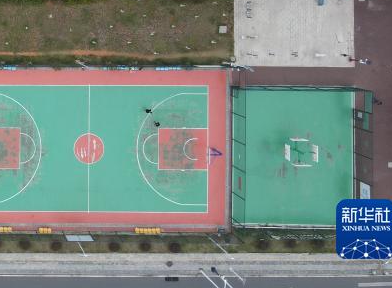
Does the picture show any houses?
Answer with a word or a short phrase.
No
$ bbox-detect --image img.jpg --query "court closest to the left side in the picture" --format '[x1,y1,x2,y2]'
[0,85,208,213]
